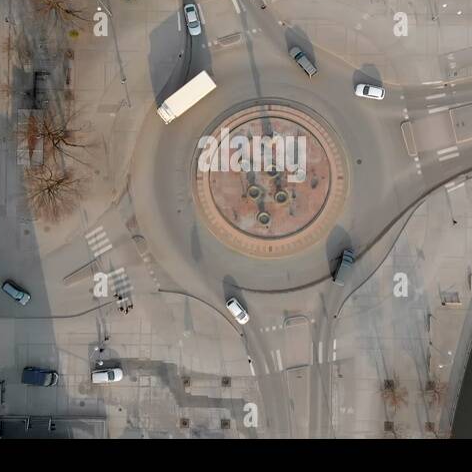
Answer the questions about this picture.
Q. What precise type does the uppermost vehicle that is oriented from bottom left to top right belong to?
truck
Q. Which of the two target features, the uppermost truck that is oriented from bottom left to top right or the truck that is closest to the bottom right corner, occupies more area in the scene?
the uppermost truck that is oriented from bottom left to top right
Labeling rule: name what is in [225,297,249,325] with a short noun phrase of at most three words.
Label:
car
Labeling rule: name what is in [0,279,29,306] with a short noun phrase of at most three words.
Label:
car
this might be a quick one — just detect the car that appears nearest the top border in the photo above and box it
[185,3,200,35]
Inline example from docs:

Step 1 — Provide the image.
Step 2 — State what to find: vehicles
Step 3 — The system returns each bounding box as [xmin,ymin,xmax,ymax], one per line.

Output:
[225,297,249,325]
[290,45,318,77]
[21,368,58,386]
[0,279,29,306]
[185,3,200,35]
[355,83,386,100]
[91,367,123,384]
[159,66,219,122]
[332,250,357,286]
